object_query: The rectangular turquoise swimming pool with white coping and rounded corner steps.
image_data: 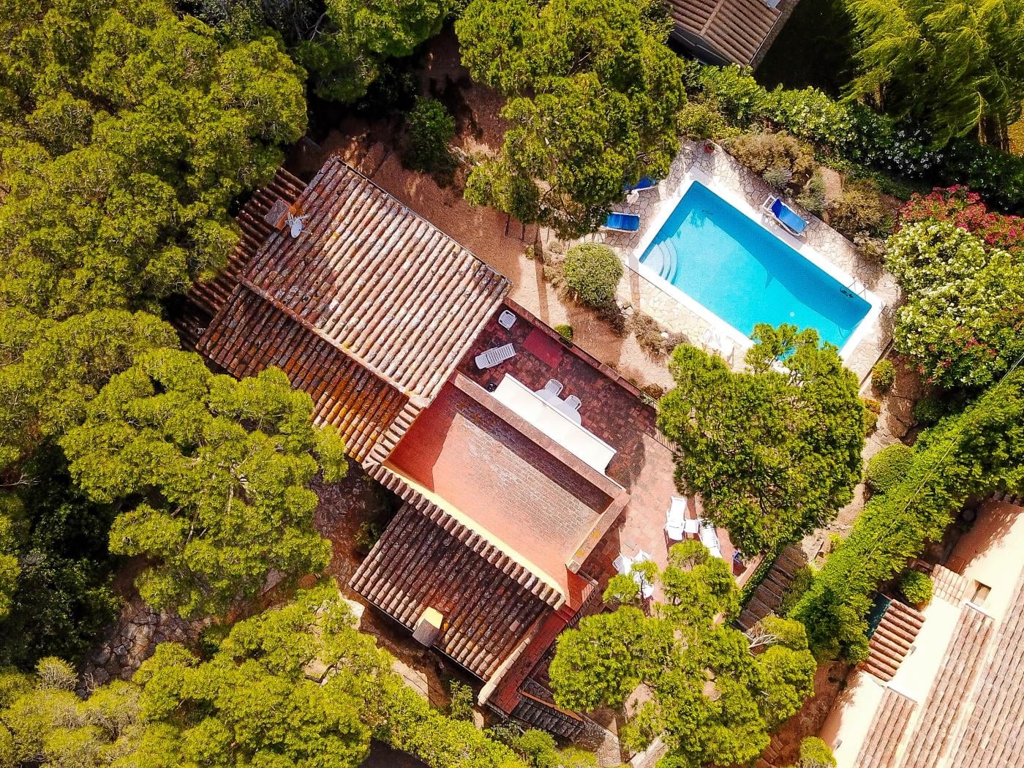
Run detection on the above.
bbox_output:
[622,160,894,397]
